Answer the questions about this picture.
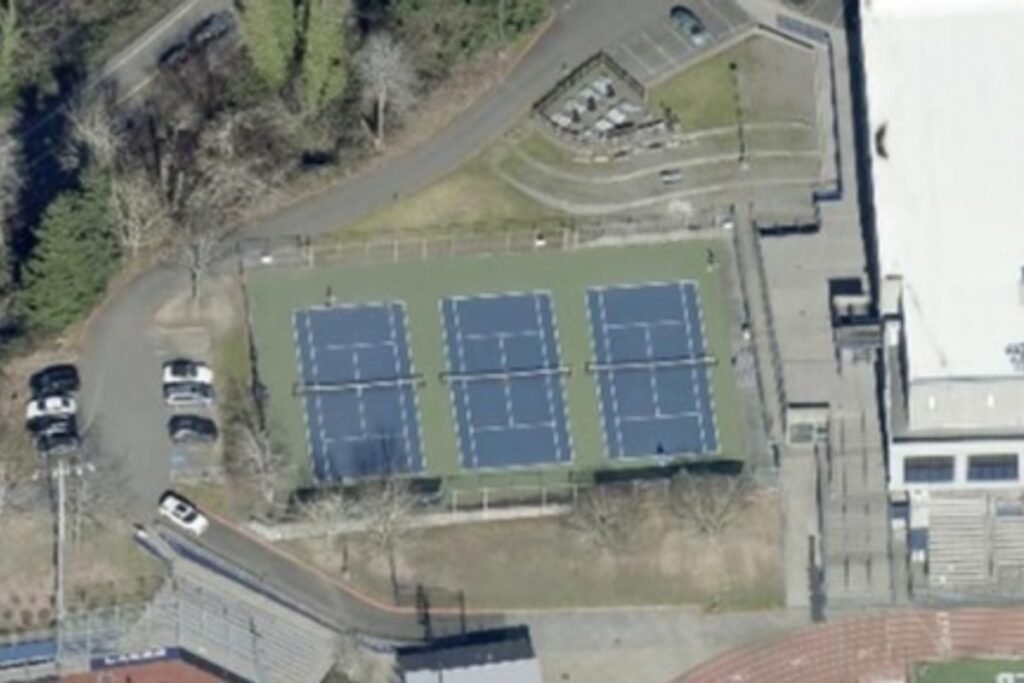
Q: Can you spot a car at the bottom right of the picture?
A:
No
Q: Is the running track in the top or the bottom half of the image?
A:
bottom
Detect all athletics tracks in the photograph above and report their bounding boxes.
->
[670,606,1024,683]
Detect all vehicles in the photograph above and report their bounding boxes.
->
[671,11,709,46]
[163,360,213,384]
[187,15,231,55]
[29,415,76,438]
[165,383,213,406]
[37,431,83,454]
[27,369,78,394]
[158,498,205,535]
[170,420,218,443]
[28,395,76,418]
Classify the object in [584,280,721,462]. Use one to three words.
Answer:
tennis court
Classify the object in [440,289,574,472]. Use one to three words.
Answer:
tennis court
